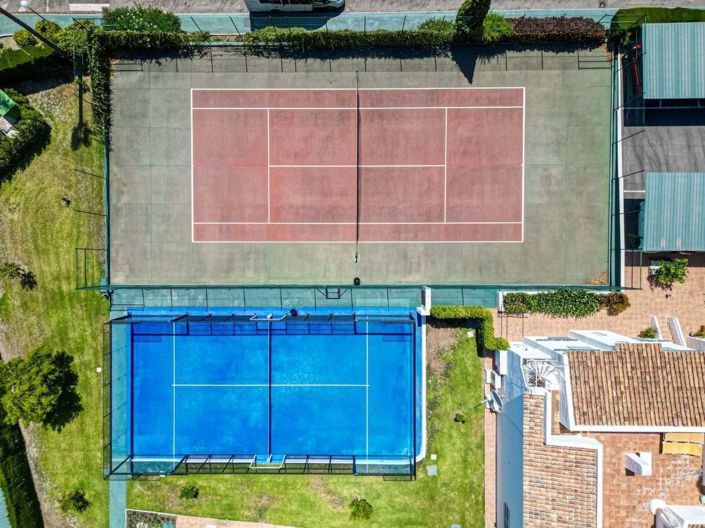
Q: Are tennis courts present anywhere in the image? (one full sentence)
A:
Yes, the frame does contain a tennis court.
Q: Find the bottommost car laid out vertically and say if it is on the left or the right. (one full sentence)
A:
You can find the bottommost car laid out vertically on the right side of the picture.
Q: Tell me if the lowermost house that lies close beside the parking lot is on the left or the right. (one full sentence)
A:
You can find the lowermost house that lies close beside the parking lot on the right side of the picture.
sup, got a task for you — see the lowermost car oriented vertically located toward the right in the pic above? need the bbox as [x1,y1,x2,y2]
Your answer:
[630,194,658,253]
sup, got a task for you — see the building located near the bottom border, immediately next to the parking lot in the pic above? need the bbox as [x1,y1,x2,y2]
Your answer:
[496,331,705,528]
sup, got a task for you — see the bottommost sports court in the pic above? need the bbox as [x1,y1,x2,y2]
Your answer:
[126,308,426,465]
